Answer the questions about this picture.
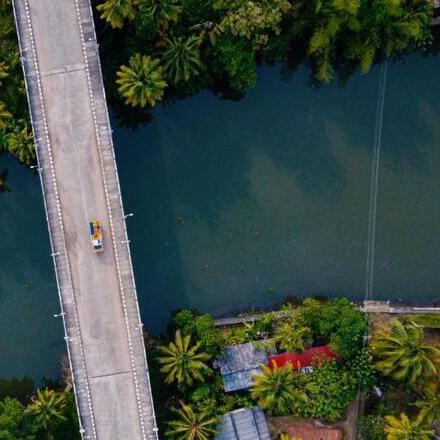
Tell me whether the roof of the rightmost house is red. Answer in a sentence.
Yes, the roof of the rightmost house is red.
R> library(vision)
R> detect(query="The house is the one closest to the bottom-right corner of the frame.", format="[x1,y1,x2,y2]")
[301,344,339,364]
